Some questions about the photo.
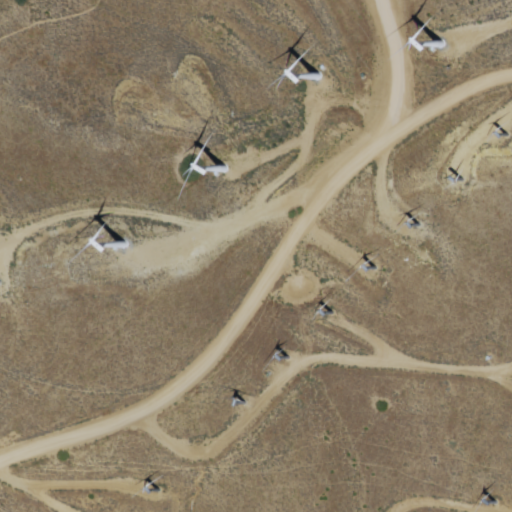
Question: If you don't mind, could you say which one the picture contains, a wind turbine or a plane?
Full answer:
This aerial view contains a wind turbine.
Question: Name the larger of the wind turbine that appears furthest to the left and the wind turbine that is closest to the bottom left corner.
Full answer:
The wind turbine that appears furthest to the left is larger than the wind turbine that is closest to the bottom left corner.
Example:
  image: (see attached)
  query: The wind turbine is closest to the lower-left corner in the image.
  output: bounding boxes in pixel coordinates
[134,476,161,502]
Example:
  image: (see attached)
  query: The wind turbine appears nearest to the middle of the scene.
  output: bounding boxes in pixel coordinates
[308,292,335,320]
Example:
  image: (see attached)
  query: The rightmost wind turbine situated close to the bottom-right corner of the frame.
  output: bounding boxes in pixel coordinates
[477,484,499,512]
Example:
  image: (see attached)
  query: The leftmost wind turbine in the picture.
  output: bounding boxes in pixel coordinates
[65,216,132,270]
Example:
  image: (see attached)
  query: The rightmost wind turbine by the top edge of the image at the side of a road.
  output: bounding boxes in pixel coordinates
[392,4,448,52]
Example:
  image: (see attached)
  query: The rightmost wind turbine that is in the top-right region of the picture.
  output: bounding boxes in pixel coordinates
[486,118,510,145]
